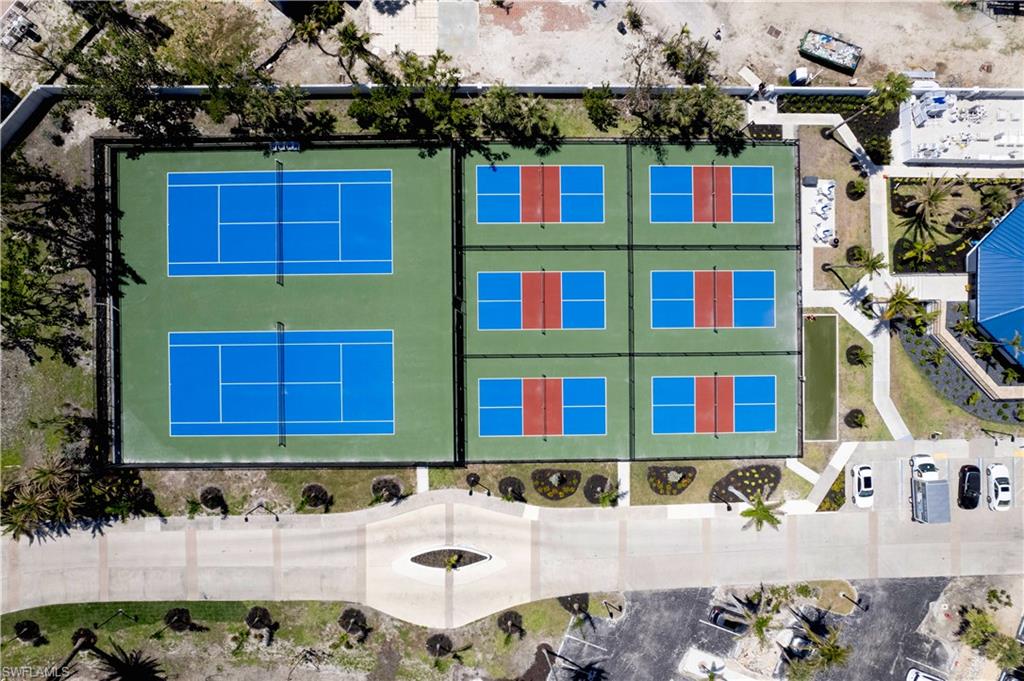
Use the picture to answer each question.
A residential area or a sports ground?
sports ground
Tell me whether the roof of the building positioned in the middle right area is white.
No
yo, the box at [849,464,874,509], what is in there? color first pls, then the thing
white car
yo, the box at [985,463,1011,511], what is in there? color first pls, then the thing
white car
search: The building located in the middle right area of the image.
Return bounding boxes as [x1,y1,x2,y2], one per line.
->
[952,192,1024,369]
